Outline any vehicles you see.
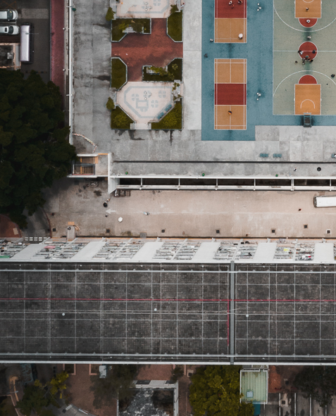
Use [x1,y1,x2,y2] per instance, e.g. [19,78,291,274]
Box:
[0,9,16,21]
[19,22,33,64]
[312,195,336,207]
[0,24,19,35]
